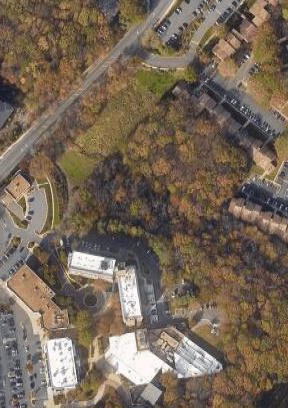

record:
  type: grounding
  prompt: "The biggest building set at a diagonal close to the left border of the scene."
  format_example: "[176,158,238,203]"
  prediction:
[2,265,68,334]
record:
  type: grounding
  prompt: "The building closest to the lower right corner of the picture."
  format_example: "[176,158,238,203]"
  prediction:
[173,338,222,382]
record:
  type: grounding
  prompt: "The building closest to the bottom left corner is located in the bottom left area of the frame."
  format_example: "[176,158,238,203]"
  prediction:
[46,337,77,390]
